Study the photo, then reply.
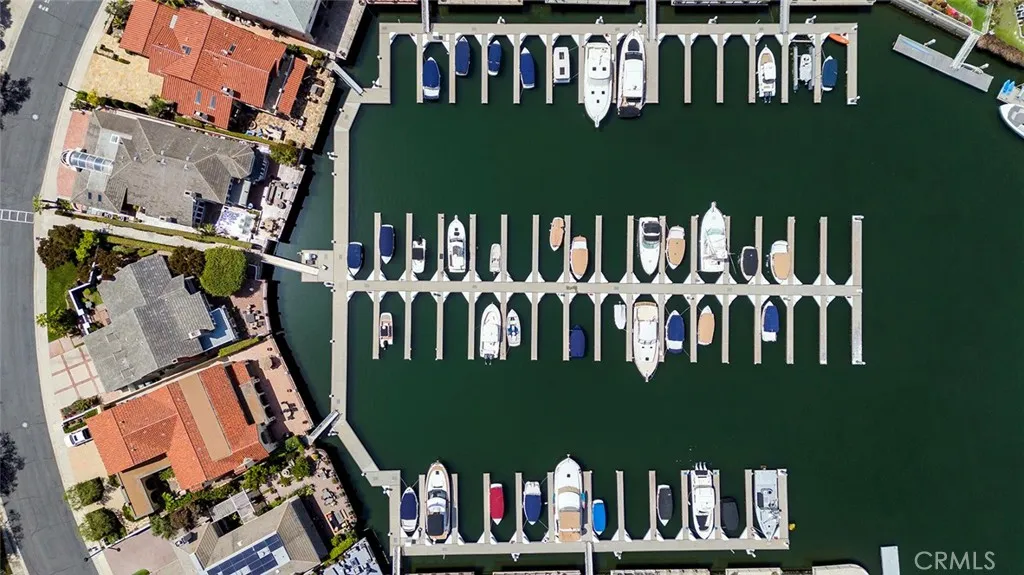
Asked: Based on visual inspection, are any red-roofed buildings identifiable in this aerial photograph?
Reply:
Yes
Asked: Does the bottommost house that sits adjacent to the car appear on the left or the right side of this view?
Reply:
left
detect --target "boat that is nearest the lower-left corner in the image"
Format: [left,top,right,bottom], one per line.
[401,481,419,532]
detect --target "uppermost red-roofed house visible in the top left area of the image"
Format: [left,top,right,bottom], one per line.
[120,0,307,130]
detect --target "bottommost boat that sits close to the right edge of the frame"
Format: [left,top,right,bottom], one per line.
[999,101,1024,137]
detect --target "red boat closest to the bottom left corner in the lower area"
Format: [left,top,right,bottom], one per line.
[489,483,504,531]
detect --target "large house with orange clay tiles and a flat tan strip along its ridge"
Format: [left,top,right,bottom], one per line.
[86,360,288,519]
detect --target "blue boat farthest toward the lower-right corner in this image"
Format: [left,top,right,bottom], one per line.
[761,302,779,340]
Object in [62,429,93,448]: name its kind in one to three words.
car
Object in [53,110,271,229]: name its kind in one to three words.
house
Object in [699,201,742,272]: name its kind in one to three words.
boat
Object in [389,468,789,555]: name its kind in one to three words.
pier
